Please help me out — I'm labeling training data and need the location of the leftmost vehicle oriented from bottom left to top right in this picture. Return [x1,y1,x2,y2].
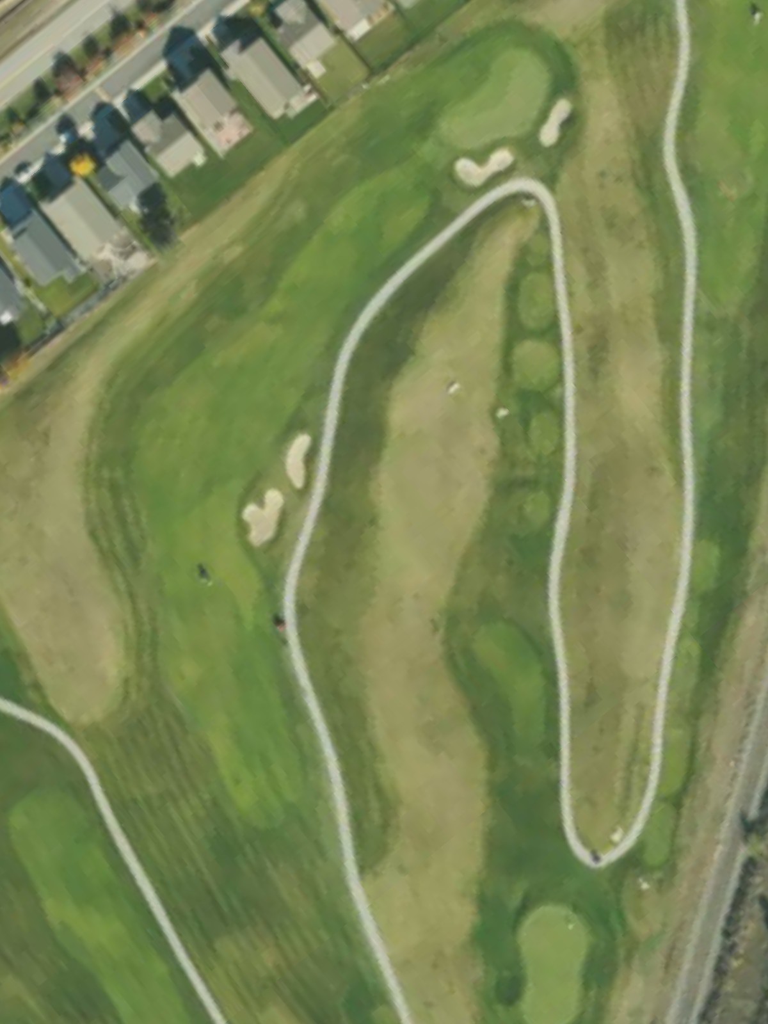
[17,163,36,180]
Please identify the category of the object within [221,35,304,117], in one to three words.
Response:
house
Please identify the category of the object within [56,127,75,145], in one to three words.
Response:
vehicle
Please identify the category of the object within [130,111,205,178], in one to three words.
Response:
house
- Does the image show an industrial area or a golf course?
golf course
